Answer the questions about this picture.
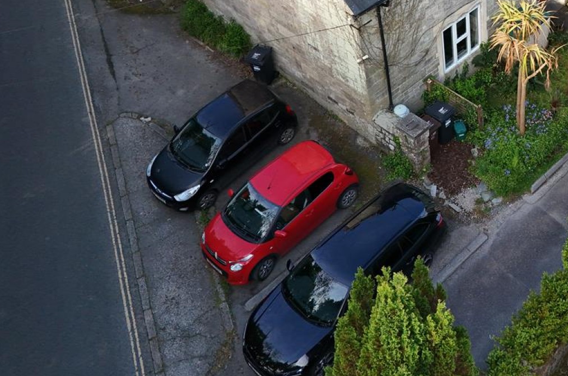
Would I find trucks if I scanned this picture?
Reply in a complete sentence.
No, no truck is visible in the view.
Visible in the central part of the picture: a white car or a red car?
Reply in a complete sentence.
There is a red car in the central part of the picture.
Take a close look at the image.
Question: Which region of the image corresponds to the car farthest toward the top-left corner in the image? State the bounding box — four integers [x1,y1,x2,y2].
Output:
[141,71,296,209]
